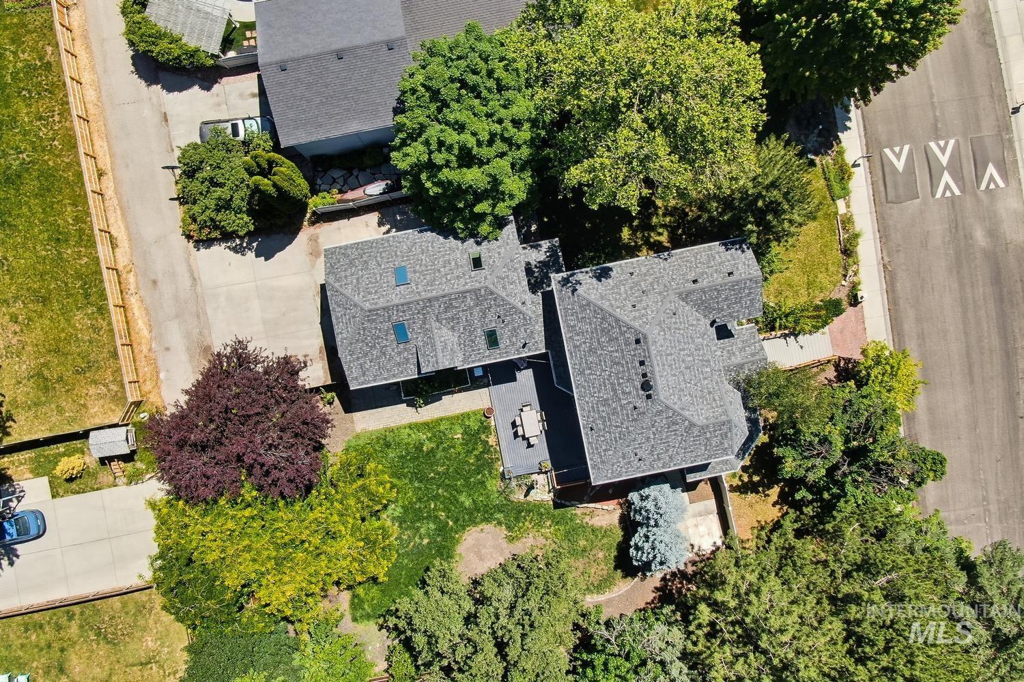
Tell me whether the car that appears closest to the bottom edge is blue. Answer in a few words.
Yes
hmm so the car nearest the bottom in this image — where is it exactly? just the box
[0,507,52,546]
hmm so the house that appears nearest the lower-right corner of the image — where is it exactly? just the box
[539,236,767,486]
